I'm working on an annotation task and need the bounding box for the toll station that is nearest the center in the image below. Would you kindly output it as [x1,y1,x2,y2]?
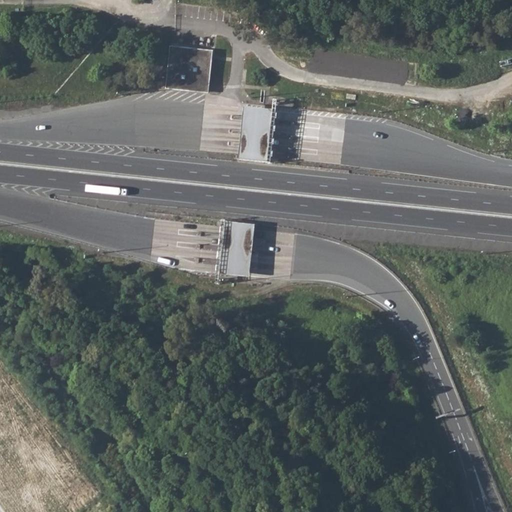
[152,216,296,280]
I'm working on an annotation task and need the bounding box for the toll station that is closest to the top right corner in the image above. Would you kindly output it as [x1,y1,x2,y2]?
[200,94,346,166]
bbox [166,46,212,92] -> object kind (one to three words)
building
